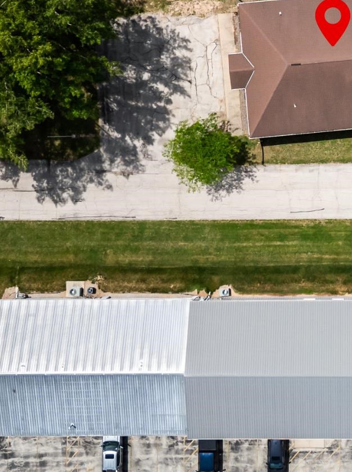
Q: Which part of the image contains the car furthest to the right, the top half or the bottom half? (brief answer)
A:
bottom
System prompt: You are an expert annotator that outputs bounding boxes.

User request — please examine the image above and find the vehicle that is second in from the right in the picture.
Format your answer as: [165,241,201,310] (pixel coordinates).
[201,440,222,472]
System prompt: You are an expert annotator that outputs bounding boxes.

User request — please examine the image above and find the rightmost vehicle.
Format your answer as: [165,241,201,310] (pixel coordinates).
[265,440,290,472]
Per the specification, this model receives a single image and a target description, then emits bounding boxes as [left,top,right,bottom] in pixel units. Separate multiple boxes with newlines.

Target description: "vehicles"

[201,440,222,472]
[99,438,124,472]
[265,440,290,472]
